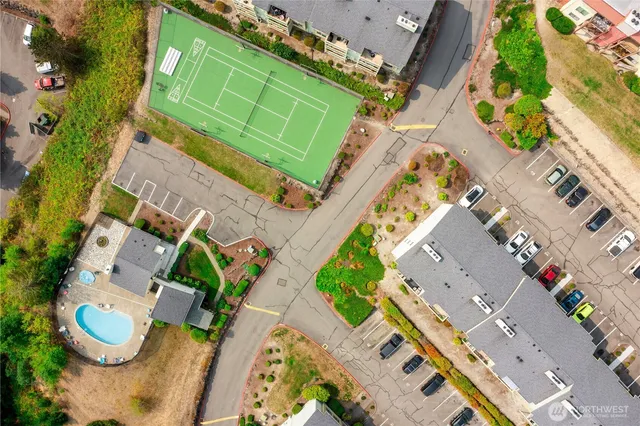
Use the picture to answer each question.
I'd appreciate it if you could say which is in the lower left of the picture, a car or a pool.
pool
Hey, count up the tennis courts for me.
1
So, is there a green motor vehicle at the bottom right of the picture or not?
Yes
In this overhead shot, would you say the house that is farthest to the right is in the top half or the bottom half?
top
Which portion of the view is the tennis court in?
top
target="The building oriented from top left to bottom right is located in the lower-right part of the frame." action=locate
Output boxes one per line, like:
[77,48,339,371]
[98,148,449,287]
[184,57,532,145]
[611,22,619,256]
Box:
[391,204,640,426]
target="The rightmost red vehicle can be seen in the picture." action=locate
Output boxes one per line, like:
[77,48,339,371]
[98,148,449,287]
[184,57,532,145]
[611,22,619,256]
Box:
[536,263,562,286]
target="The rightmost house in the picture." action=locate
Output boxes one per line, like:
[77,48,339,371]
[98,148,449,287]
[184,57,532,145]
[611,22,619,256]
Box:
[561,0,640,85]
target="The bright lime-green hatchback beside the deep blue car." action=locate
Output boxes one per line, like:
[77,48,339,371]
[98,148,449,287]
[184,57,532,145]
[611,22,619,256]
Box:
[571,300,596,322]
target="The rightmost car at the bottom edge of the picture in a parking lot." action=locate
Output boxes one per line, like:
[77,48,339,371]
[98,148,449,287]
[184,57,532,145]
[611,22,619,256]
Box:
[448,404,474,426]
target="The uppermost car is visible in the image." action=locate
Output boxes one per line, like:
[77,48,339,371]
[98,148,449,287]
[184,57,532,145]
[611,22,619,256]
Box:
[20,22,38,48]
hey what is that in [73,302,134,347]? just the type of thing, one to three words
swimming pool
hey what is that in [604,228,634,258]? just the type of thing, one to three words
truck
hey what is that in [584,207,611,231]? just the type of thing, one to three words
car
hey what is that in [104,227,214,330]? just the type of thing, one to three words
building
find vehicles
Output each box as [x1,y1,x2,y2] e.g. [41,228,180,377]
[536,263,562,286]
[34,76,67,91]
[514,240,542,264]
[564,186,589,210]
[377,332,406,359]
[559,286,585,312]
[420,371,446,396]
[571,300,596,322]
[503,229,529,254]
[584,207,611,231]
[458,184,484,210]
[20,22,38,48]
[34,61,60,75]
[544,164,567,186]
[554,174,581,198]
[604,228,634,258]
[400,352,424,375]
[448,404,474,426]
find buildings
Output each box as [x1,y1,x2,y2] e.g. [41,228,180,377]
[391,204,640,426]
[288,404,346,426]
[104,227,214,330]
[561,0,640,85]
[208,0,434,82]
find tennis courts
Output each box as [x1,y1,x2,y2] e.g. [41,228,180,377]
[148,6,361,187]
